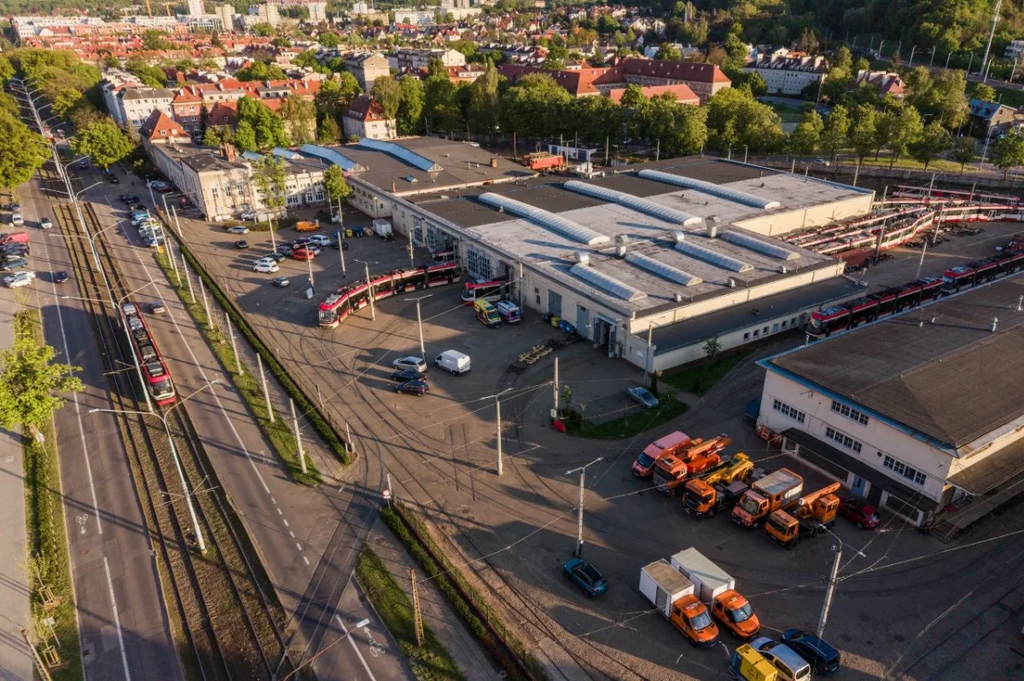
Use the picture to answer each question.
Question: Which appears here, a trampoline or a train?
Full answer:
This aerial view contains a train.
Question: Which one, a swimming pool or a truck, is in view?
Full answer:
I can see a truck in this picture.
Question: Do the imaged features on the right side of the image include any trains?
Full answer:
Yes, looking on the right side of the image, one can make out a train.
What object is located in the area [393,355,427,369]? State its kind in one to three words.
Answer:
car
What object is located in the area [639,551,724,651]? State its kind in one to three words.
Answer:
truck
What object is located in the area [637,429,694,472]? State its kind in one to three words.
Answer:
van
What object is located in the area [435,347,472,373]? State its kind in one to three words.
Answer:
vehicle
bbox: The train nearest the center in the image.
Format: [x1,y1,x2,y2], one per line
[464,272,499,303]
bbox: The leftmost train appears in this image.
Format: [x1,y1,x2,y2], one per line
[124,308,177,409]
